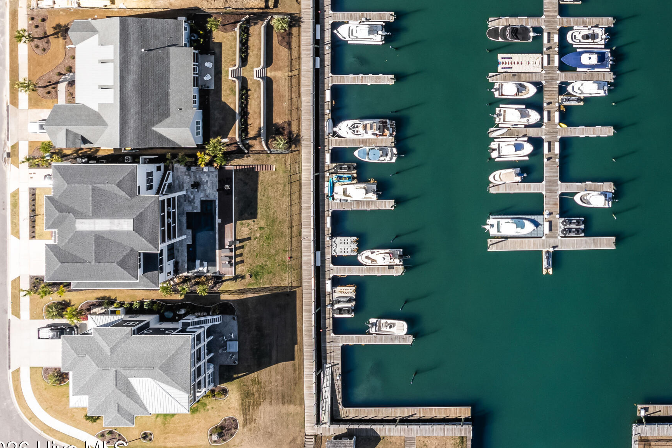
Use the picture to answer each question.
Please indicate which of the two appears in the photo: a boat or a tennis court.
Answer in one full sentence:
It is a boat that can be seen here.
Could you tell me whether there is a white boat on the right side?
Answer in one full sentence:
Yes, a white boat shows up on the right side.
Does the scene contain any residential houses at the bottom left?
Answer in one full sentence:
Yes, there is a residential house at the bottom left.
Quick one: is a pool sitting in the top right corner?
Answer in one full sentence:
No, no pool can be made out in the top right corner.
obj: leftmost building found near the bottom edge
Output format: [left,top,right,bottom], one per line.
[60,310,227,428]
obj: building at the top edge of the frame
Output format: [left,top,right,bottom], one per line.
[43,17,204,148]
